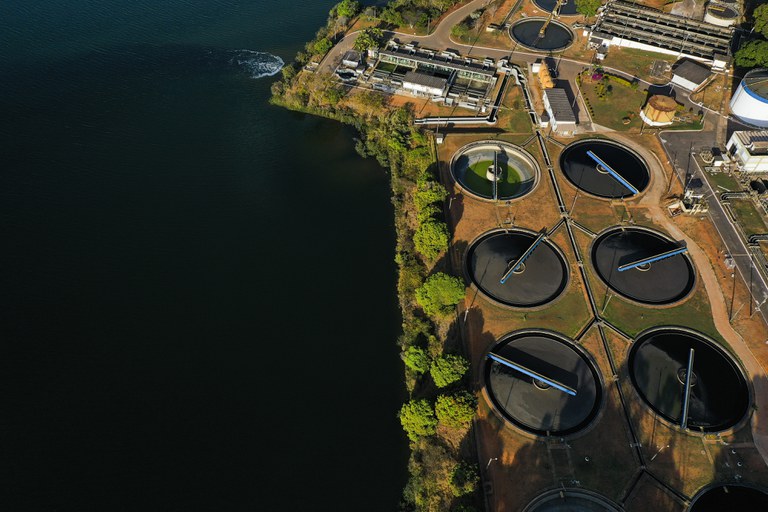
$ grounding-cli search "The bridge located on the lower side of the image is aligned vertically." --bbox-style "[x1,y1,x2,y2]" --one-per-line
[677,348,695,431]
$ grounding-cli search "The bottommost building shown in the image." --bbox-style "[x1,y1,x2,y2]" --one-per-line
[676,187,709,217]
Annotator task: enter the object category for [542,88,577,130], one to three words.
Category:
building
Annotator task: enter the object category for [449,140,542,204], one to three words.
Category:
storage tank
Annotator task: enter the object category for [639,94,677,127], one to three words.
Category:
silo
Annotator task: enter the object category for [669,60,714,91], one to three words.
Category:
house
